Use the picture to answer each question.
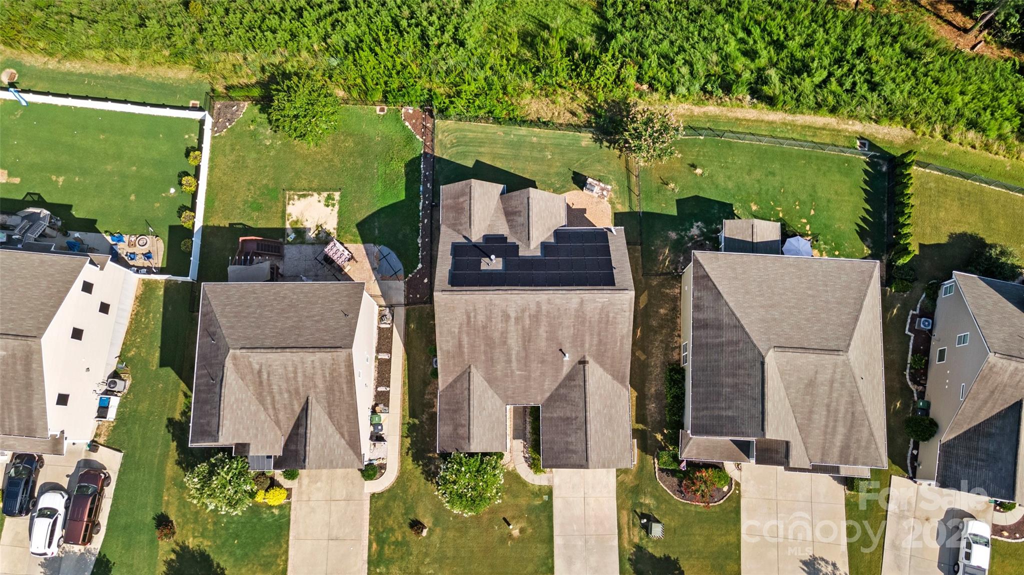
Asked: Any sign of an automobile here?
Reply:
Yes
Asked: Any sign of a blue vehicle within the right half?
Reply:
No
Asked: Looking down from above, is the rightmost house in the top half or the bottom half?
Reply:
bottom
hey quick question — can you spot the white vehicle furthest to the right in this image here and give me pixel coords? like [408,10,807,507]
[951,513,1000,575]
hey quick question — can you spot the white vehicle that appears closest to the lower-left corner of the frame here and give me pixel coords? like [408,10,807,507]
[26,487,69,560]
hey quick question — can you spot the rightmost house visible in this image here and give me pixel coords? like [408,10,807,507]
[914,272,1024,505]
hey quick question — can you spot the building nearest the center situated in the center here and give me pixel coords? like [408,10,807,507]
[434,180,634,470]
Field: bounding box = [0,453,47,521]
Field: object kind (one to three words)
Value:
car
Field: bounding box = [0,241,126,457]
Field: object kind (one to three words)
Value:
house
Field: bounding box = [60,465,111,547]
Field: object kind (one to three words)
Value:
car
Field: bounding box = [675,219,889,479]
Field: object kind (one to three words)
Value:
house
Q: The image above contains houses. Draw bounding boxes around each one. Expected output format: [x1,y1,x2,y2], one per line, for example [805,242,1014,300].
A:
[0,241,126,457]
[188,282,380,472]
[914,272,1024,505]
[434,180,634,470]
[675,219,889,479]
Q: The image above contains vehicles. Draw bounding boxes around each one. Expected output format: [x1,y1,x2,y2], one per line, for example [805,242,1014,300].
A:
[0,453,47,521]
[951,513,1000,575]
[26,487,69,560]
[60,465,111,547]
